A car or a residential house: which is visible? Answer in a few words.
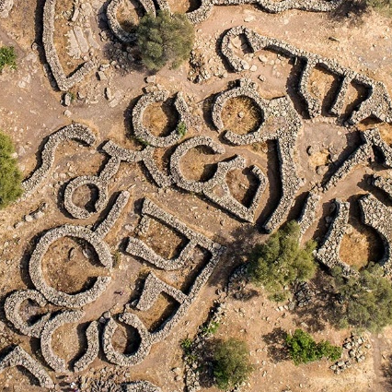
residential house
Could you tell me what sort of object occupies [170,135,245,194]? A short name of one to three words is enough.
shed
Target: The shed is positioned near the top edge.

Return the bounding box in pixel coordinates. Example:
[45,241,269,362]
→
[105,0,156,45]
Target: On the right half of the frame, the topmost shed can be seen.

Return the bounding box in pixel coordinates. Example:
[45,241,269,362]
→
[211,81,271,144]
